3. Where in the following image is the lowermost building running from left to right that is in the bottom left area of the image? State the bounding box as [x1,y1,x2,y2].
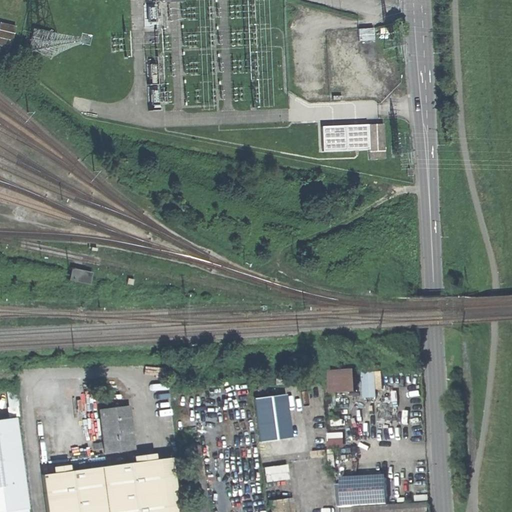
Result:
[41,454,180,512]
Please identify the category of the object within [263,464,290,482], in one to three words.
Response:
shed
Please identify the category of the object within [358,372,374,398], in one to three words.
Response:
shed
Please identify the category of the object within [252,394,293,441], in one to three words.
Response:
building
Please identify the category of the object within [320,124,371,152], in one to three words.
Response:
building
